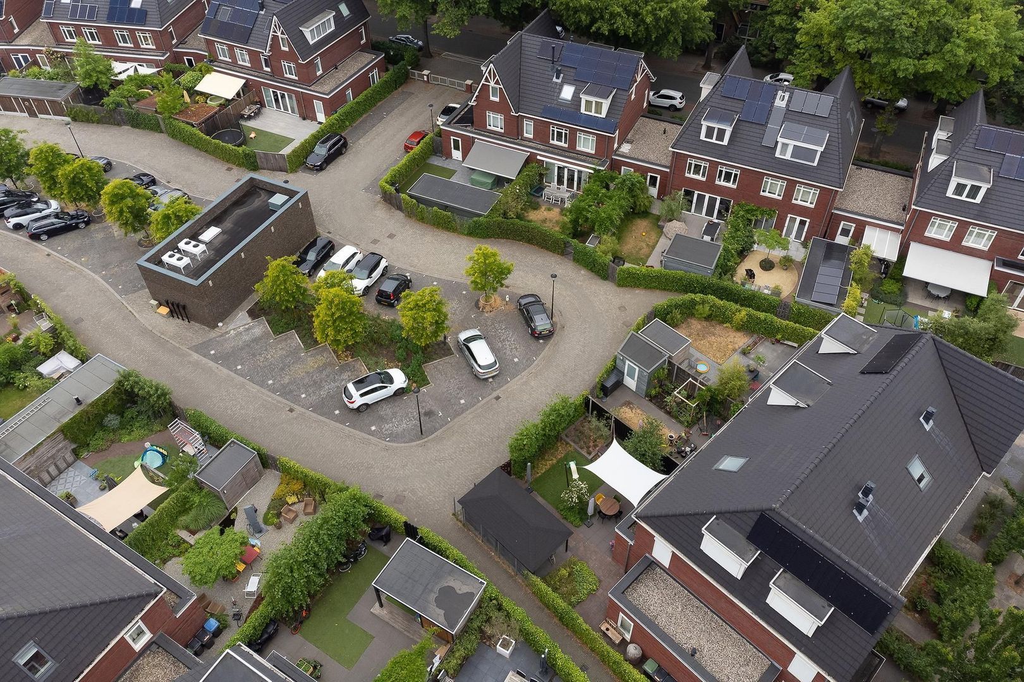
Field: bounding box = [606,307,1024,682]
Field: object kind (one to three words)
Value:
house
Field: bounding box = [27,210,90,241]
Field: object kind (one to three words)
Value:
car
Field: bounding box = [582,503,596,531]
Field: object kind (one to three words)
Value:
umbrella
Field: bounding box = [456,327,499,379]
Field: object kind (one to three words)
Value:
car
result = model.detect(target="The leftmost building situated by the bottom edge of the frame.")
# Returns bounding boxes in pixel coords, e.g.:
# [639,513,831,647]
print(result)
[0,470,210,682]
